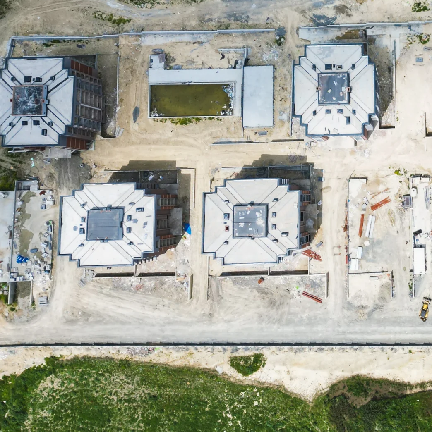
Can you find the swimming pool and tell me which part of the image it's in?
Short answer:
top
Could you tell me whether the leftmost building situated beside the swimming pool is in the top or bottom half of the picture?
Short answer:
top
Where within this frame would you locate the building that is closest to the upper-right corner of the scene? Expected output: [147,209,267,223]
[291,42,381,149]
